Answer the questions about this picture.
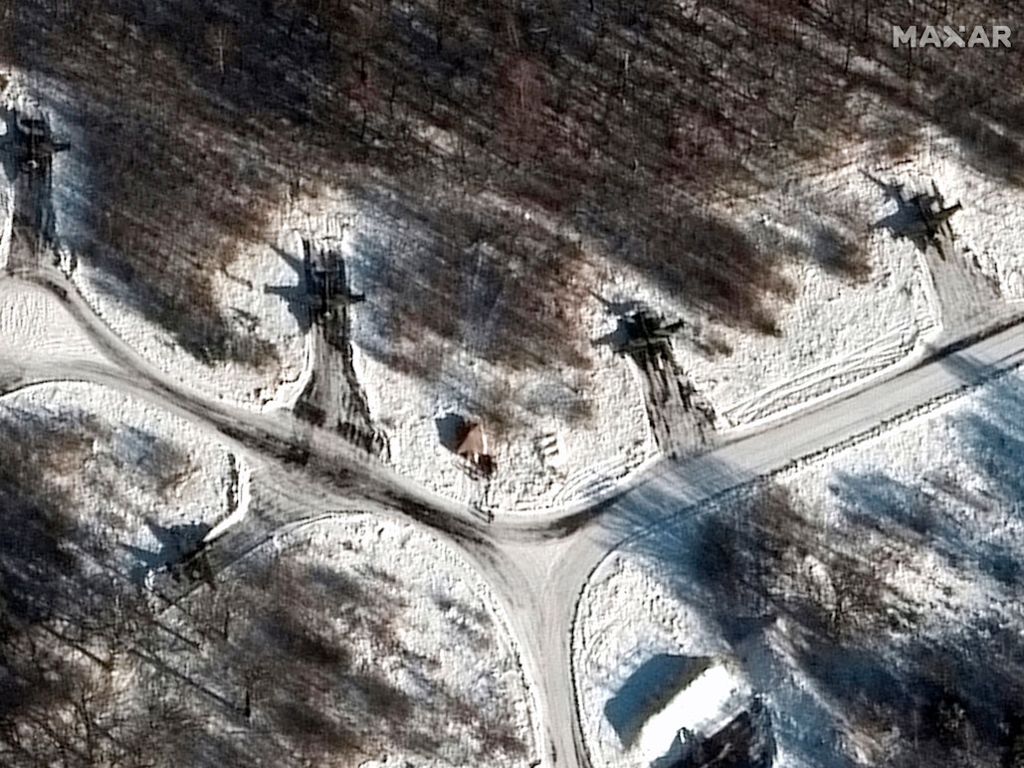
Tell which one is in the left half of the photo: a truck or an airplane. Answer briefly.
airplane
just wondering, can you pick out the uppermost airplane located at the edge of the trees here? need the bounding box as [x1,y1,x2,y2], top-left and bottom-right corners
[0,110,74,184]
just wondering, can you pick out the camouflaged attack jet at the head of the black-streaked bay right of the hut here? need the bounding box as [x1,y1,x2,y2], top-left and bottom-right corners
[605,295,686,371]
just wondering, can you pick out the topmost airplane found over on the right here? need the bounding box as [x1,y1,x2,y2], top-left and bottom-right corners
[881,179,961,251]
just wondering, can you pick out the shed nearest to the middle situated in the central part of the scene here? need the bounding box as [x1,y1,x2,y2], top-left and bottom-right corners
[458,420,488,471]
